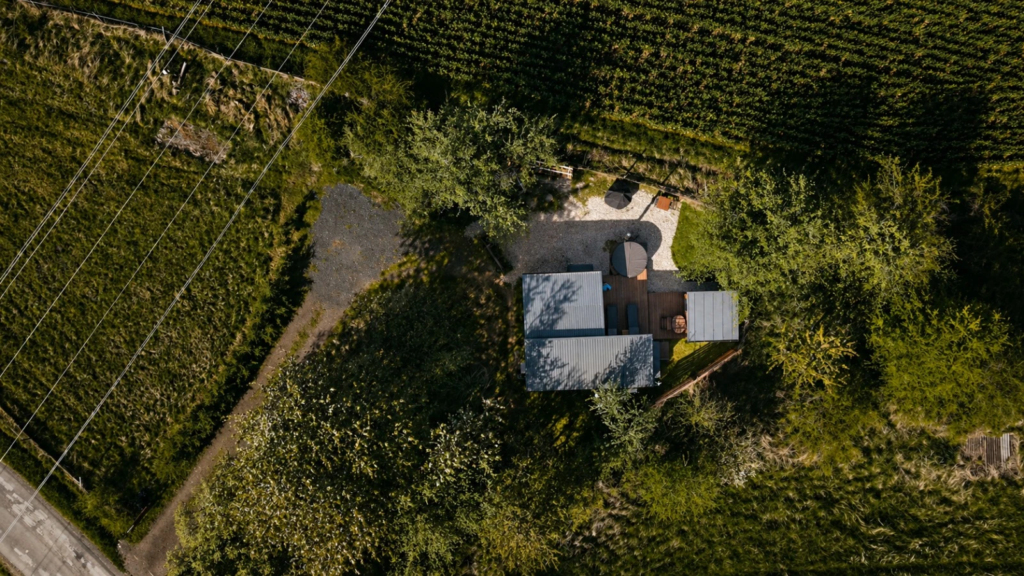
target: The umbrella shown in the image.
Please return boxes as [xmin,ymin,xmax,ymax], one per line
[603,179,634,210]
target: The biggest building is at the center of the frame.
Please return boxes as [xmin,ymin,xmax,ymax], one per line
[519,270,662,394]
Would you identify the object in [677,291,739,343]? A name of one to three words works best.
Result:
shed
